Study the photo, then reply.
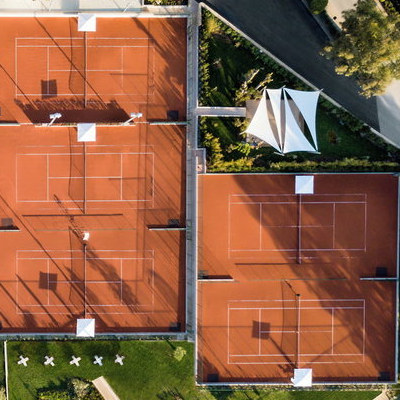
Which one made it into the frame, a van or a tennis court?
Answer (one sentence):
There is a tennis court in the scene.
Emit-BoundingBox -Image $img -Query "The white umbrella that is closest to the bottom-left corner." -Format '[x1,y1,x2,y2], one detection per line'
[77,318,95,336]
